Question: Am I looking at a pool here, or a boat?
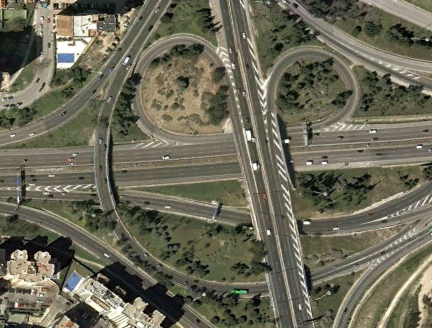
pool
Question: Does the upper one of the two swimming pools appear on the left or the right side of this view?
left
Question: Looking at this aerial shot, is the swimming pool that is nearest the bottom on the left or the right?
left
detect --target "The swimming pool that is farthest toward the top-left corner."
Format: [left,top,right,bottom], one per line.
[56,39,95,68]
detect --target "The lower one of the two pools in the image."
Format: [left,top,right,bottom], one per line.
[62,269,86,293]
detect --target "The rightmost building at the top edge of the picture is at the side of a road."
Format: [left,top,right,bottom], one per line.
[49,14,116,41]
